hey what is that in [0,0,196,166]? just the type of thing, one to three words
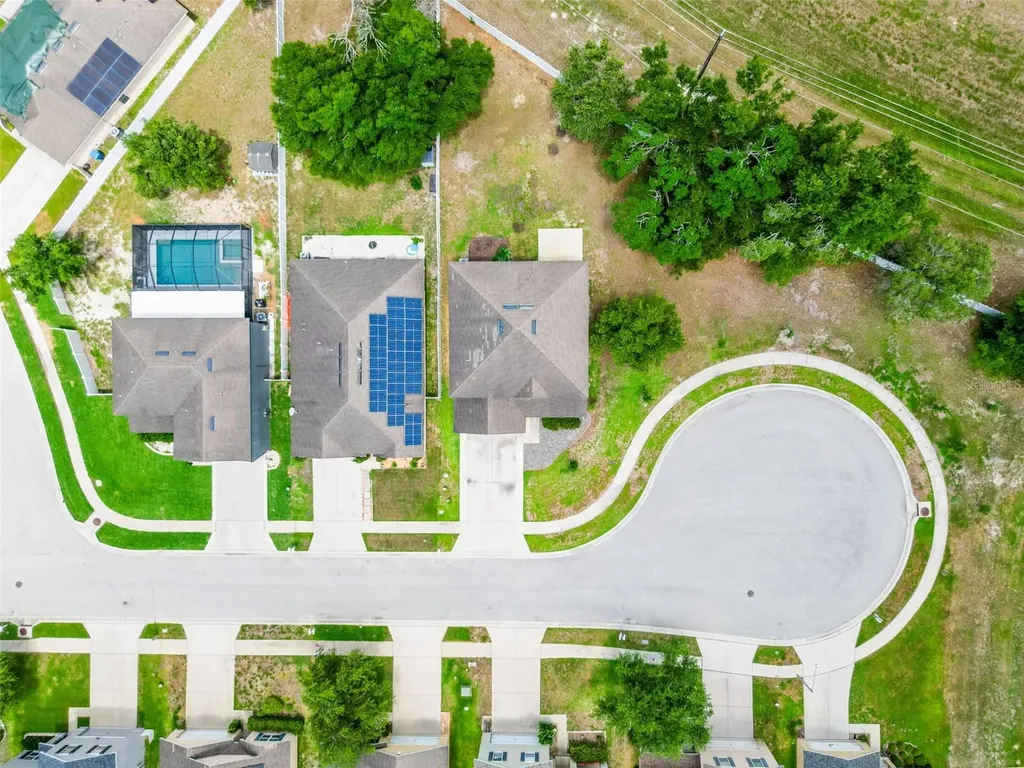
house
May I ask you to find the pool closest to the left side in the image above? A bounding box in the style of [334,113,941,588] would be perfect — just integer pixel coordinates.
[152,236,240,288]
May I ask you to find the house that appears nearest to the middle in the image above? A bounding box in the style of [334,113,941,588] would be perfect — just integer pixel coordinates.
[449,261,589,435]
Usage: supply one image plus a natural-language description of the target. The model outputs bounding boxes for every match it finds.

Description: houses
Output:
[797,739,894,768]
[0,0,196,166]
[158,728,297,768]
[0,728,156,768]
[287,259,425,458]
[112,290,269,463]
[337,734,448,768]
[449,261,589,435]
[635,737,784,768]
[474,732,612,768]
